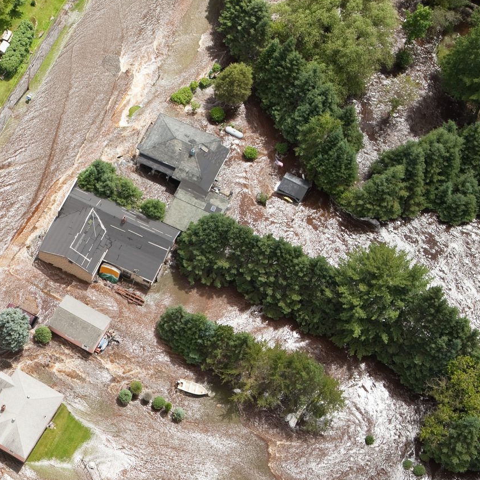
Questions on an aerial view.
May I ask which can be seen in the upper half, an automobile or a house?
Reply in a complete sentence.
You can see a house in the upper half.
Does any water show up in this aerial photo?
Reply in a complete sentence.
Yes, water shows up in the scene.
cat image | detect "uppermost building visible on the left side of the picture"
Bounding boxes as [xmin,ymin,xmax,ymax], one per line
[131,115,232,195]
